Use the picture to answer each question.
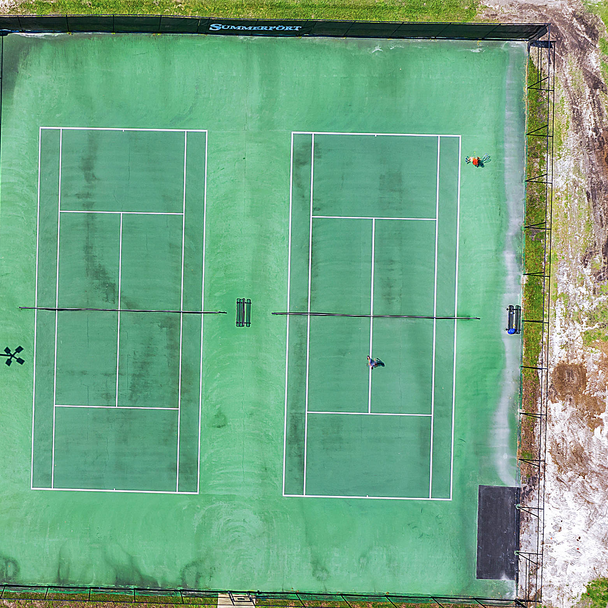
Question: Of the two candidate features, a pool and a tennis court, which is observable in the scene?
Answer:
tennis court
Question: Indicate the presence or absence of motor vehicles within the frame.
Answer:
No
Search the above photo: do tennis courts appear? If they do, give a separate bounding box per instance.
[283,131,461,501]
[31,127,208,494]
